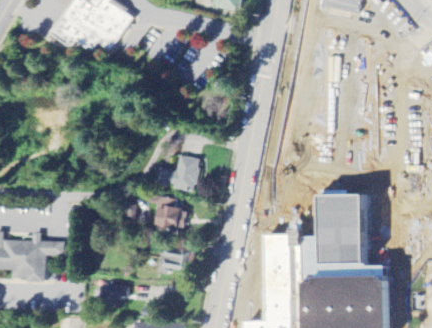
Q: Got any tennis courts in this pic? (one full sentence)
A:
No, there appears to be no tennis court in this shot.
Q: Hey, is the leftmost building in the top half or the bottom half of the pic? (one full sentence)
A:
It is in the bottom half that the leftmost building appears.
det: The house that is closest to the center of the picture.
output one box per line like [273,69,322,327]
[168,154,201,192]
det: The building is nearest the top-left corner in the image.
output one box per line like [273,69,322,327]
[45,0,134,48]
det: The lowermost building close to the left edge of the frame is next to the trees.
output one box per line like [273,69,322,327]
[0,232,65,280]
